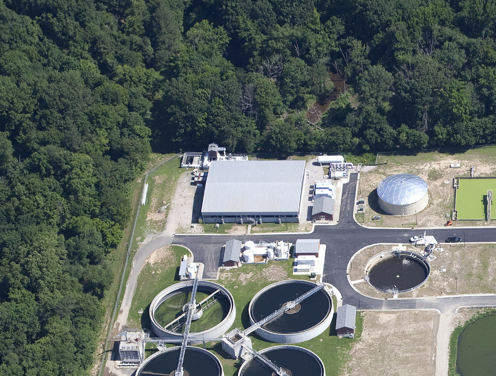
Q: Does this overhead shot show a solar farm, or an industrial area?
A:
industrial area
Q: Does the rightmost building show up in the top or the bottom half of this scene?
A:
bottom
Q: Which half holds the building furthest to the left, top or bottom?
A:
bottom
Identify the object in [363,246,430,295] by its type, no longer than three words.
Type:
water tank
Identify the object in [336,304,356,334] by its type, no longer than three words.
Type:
building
